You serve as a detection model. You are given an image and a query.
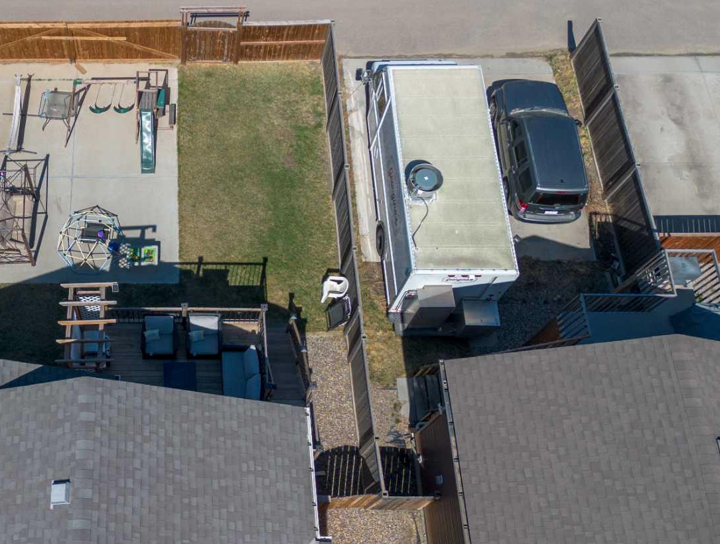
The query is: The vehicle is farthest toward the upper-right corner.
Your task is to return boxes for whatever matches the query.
[489,89,589,224]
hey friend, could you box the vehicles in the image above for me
[489,89,589,224]
[358,58,521,335]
